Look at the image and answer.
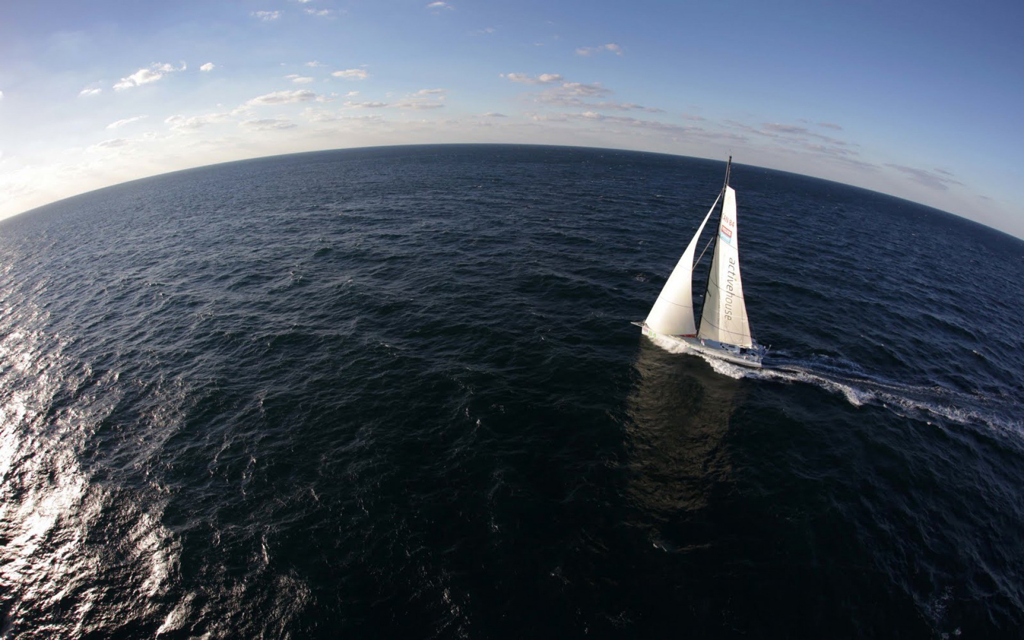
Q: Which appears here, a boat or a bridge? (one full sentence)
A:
Looking from above, you can make out a boat.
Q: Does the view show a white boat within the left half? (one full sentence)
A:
No, the scene shows no white boat within the left half.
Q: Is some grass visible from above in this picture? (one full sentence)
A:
No, the scene doesn't show any grass.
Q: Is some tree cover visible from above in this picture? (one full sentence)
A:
No, there is no tree cover in the image.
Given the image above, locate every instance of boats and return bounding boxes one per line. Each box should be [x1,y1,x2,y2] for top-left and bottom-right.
[631,146,771,367]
